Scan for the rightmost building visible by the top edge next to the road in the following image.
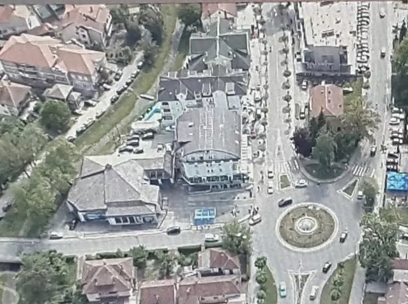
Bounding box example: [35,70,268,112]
[295,0,359,85]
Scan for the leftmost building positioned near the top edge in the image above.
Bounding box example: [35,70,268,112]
[0,1,29,31]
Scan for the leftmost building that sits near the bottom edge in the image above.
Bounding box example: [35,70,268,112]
[82,259,134,304]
